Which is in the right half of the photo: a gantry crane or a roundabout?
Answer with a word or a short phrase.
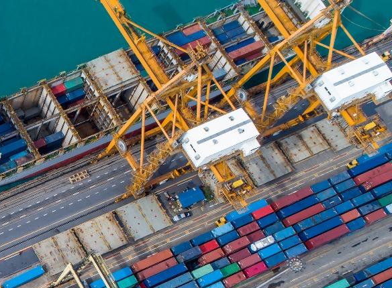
gantry crane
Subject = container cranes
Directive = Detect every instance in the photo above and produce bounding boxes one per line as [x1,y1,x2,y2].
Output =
[210,0,392,155]
[43,254,125,288]
[93,0,273,212]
